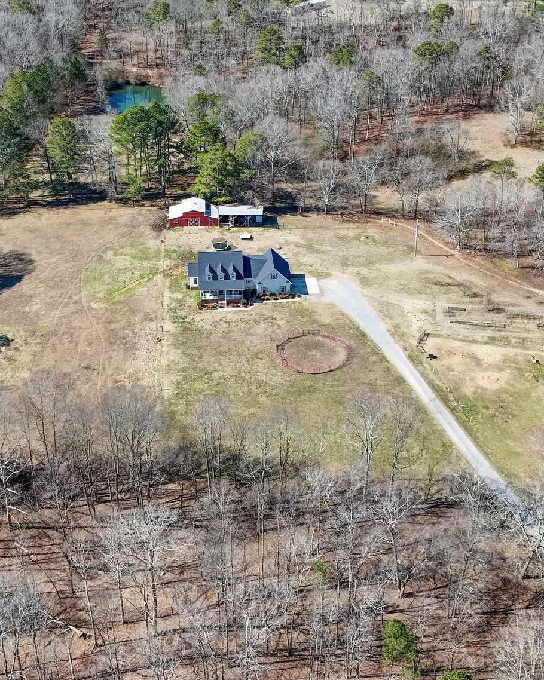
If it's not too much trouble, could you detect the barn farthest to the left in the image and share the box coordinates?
[169,195,221,226]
